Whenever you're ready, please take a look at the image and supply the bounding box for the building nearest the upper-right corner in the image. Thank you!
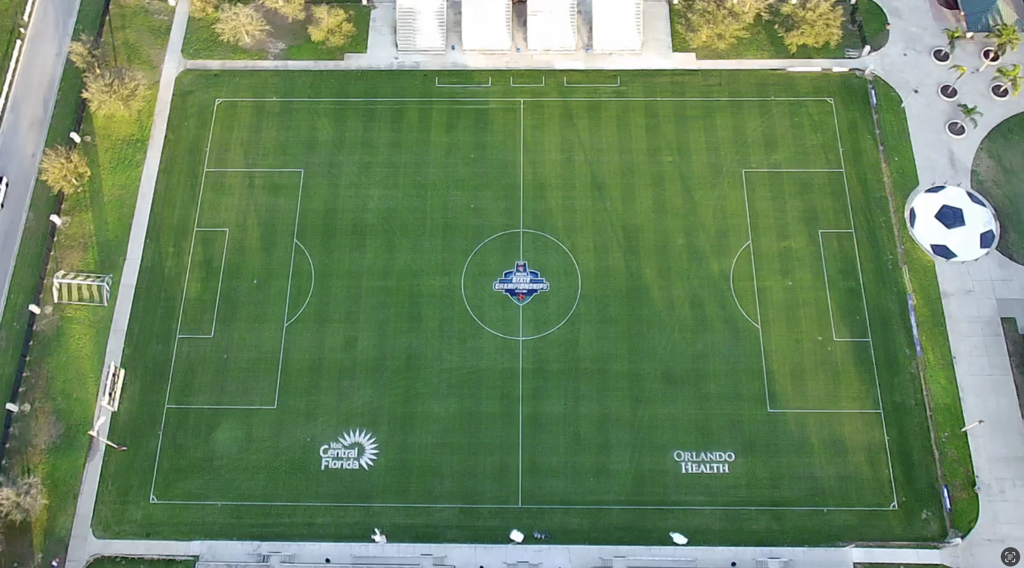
[958,0,1013,40]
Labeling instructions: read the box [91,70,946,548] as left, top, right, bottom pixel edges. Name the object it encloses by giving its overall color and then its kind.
green soccer field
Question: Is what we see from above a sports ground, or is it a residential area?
sports ground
